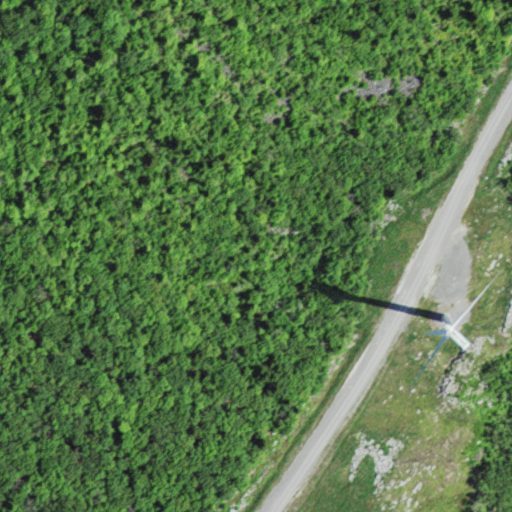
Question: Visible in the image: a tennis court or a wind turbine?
wind turbine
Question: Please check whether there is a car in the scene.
No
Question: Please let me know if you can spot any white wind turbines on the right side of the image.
Yes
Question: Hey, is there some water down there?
No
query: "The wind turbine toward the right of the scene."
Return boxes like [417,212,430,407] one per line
[420,273,502,376]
